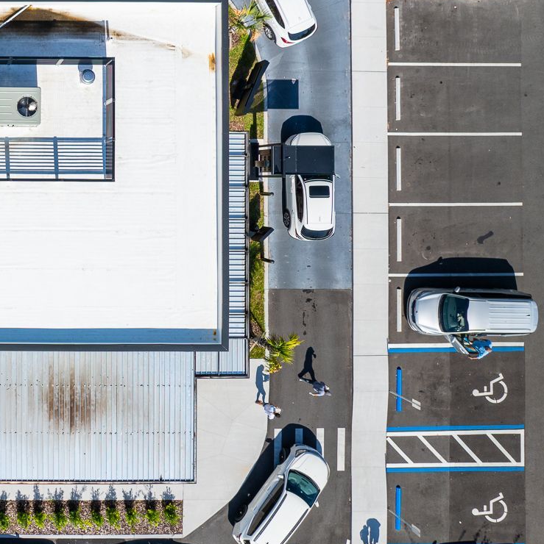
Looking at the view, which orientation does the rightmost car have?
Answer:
horizontally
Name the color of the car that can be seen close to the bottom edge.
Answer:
white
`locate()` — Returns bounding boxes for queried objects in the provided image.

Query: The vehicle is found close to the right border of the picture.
[403,285,539,355]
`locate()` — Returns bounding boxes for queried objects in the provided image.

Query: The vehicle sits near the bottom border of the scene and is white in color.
[231,444,328,544]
